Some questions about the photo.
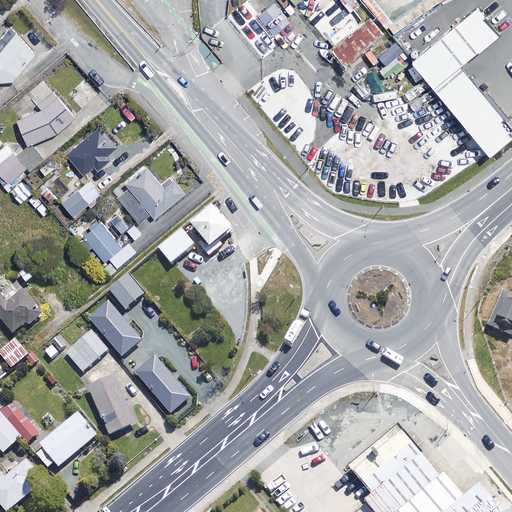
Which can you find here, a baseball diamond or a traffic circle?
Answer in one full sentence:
Visible in the photo is a traffic circle.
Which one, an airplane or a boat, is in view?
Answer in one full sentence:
Of the two, only a boat appears.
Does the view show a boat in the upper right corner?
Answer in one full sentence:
Yes, a boat can be seen in the upper right corner.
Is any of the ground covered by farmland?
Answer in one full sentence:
No, farmland can't be seen anywhere here.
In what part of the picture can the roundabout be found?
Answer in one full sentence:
The roundabout sits in the right section of the image.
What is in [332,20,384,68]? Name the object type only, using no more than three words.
building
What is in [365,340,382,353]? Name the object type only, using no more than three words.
vehicle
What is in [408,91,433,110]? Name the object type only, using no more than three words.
boat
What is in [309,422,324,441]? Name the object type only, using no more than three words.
vehicle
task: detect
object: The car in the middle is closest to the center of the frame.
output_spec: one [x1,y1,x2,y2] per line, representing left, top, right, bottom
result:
[218,244,234,258]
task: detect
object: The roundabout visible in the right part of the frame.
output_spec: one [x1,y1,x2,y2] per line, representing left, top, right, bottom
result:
[347,265,412,330]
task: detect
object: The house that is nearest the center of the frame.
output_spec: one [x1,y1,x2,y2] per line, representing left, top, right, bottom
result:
[190,202,231,255]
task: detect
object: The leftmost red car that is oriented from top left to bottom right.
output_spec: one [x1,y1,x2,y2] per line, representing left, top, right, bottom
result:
[120,104,134,120]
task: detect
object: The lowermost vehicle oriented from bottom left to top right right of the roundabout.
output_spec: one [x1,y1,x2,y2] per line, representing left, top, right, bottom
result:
[438,264,454,283]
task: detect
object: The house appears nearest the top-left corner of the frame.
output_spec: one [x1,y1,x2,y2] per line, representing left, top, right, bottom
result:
[0,28,35,82]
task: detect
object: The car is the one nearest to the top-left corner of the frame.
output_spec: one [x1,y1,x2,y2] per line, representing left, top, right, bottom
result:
[26,30,40,46]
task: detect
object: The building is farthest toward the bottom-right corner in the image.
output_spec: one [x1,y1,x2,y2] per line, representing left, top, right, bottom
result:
[348,424,502,512]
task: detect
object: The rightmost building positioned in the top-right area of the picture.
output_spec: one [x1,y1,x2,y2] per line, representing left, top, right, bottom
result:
[412,8,512,160]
